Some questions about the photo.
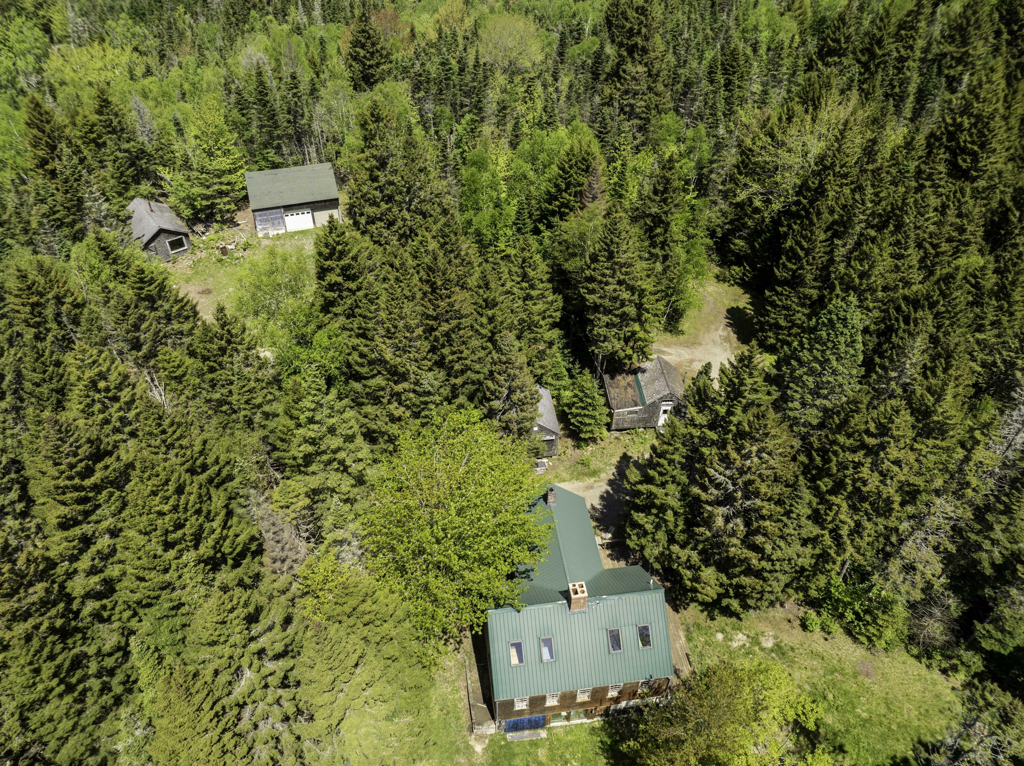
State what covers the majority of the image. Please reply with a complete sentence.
What you mostly see from above here is trees.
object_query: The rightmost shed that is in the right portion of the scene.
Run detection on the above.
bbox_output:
[604,356,688,432]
